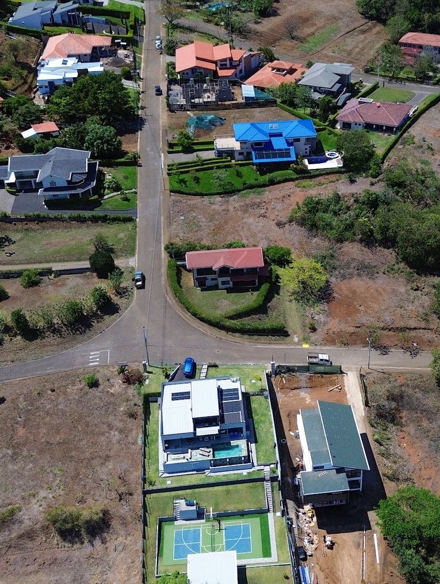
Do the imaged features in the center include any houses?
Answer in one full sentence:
Yes, you'll find a house in the center.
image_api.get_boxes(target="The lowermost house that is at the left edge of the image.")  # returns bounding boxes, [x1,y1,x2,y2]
[0,150,108,207]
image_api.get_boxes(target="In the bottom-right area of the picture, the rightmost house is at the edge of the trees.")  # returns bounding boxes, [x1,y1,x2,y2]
[299,400,370,520]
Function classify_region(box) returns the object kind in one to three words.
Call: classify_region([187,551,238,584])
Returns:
building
